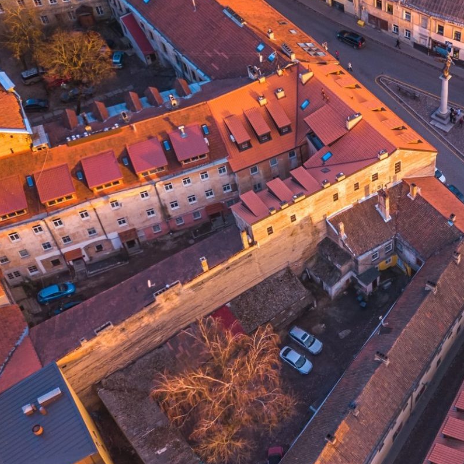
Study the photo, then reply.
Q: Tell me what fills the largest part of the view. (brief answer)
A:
buildings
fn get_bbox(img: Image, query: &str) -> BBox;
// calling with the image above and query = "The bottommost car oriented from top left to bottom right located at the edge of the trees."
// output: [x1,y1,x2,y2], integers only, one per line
[279,347,313,375]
